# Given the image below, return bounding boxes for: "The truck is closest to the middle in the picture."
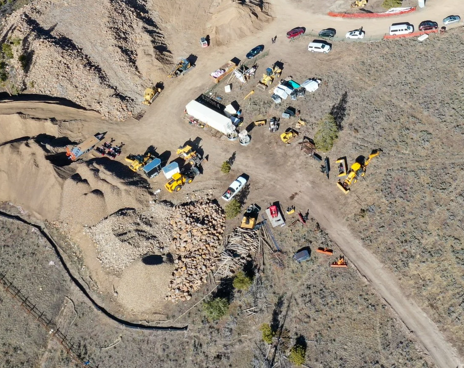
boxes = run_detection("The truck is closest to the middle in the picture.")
[222,174,248,197]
